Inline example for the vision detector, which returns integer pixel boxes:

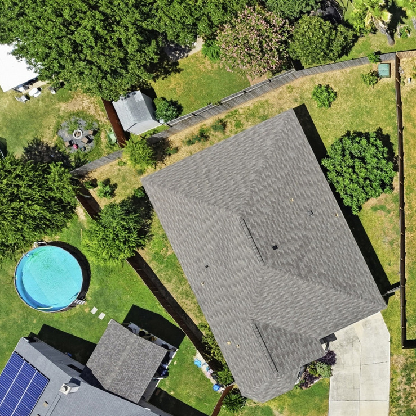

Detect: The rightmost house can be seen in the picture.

[139,110,385,404]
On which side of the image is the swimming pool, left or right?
left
